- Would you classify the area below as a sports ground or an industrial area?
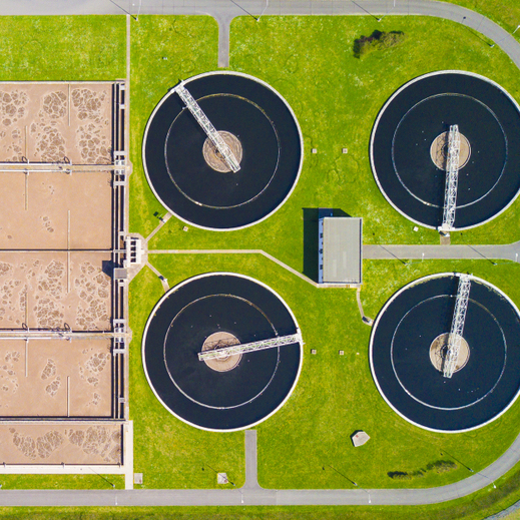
industrial area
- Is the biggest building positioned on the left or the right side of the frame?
right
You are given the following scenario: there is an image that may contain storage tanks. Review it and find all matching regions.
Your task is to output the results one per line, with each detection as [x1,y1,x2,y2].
[142,272,301,431]
[142,70,302,231]
[369,70,520,231]
[368,272,520,432]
